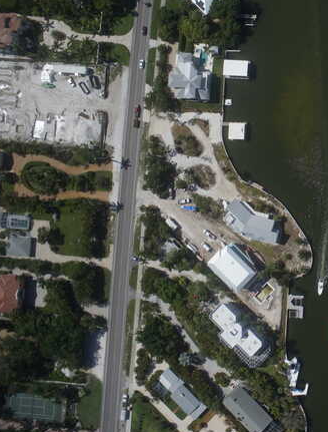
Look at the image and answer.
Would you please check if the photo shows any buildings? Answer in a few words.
Yes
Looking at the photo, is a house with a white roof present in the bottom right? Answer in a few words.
Yes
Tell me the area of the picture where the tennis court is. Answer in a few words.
bottom left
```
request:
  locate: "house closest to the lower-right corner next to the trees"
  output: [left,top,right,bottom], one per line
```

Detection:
[224,385,283,432]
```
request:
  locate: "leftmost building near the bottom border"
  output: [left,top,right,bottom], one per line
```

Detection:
[152,369,206,419]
